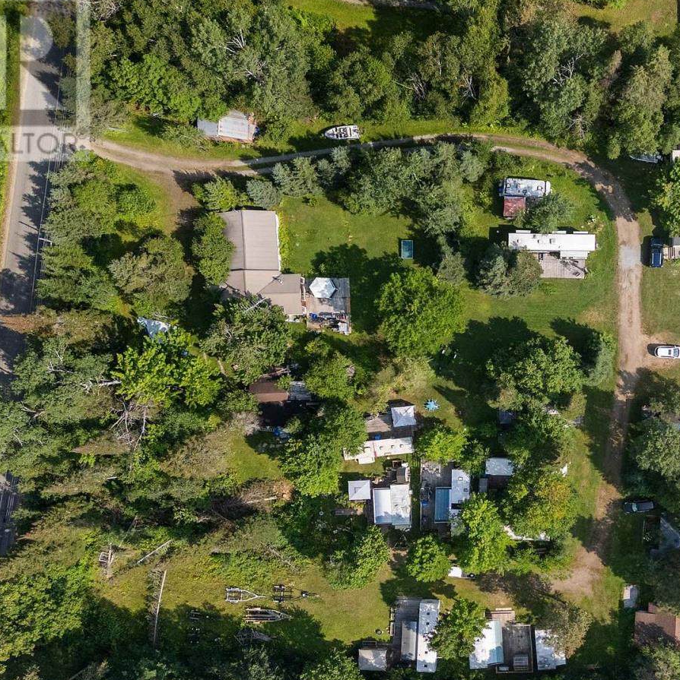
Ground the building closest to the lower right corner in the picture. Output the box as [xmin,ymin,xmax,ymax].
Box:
[635,602,680,644]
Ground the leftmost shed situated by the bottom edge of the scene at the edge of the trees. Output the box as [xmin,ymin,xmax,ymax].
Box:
[358,647,386,670]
